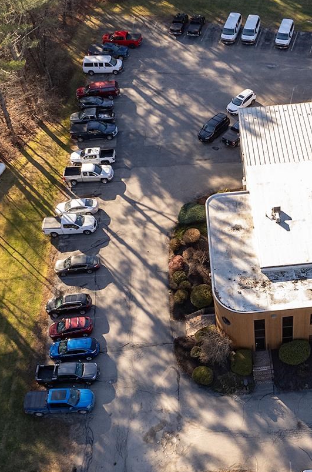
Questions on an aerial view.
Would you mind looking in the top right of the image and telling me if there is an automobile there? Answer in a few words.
Yes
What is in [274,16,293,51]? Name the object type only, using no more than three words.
vehicle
